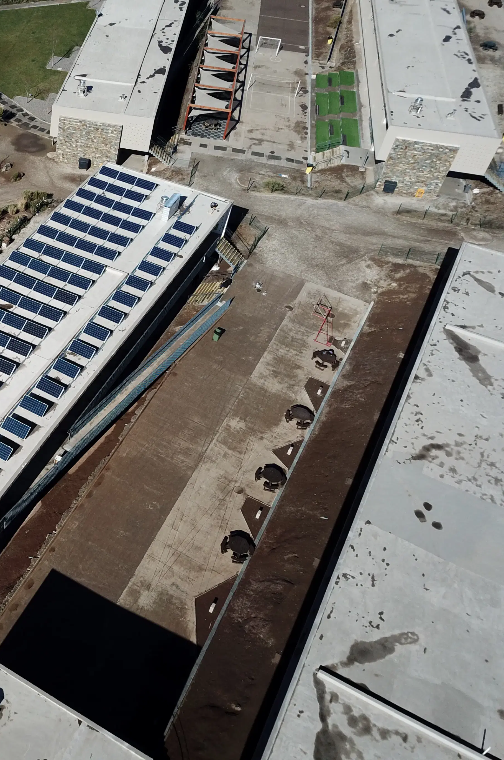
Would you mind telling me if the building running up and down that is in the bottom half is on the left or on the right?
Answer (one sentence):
It is on the right.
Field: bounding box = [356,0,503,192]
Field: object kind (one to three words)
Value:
building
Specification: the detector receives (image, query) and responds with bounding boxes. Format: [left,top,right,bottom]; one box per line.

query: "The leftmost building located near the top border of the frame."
[50,0,193,162]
